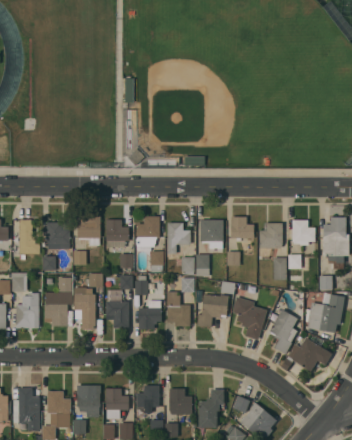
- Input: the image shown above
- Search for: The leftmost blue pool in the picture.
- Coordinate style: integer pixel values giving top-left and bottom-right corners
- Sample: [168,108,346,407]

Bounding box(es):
[59,248,72,270]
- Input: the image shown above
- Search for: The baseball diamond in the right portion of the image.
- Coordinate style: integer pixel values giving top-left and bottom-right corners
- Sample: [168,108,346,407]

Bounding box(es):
[124,0,352,167]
